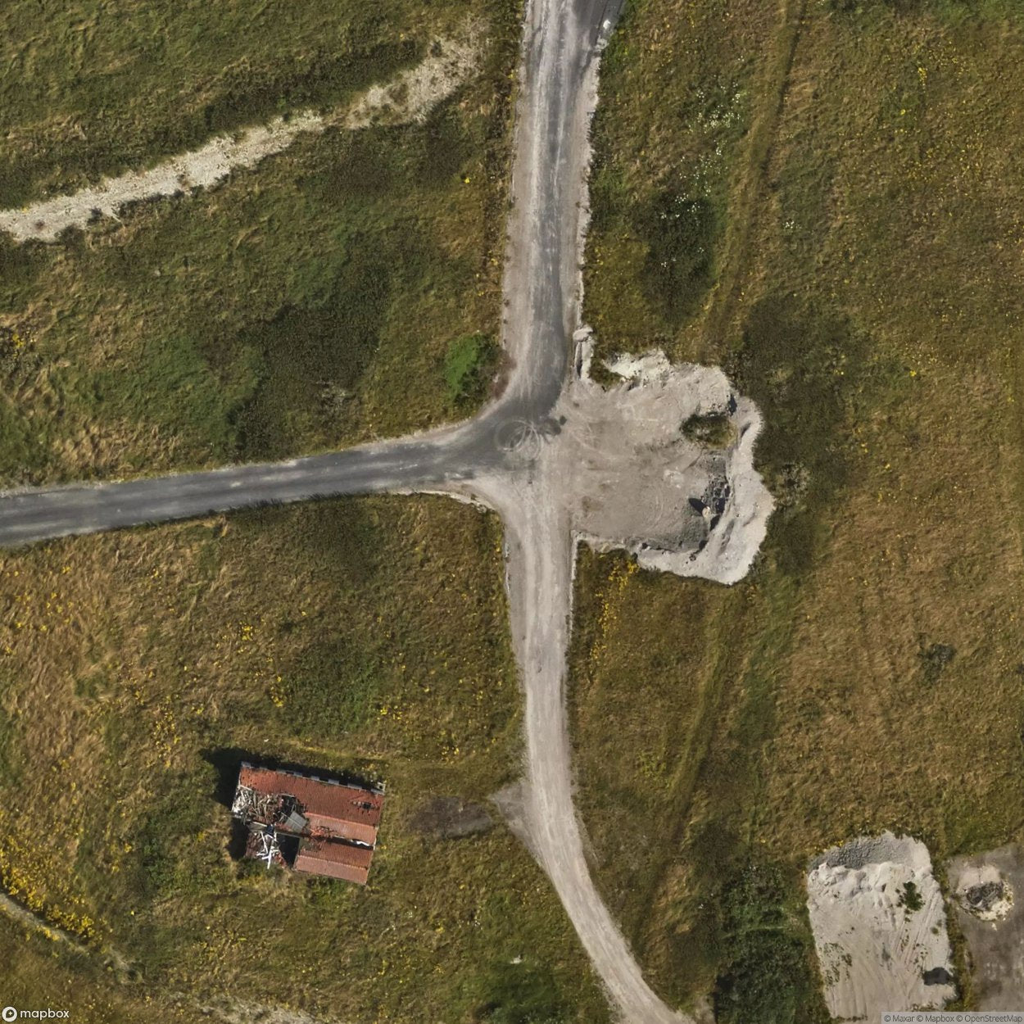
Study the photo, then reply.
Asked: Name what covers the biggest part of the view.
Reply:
grass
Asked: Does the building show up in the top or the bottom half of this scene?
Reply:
bottom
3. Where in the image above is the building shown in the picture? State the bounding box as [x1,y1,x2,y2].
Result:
[227,763,384,887]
